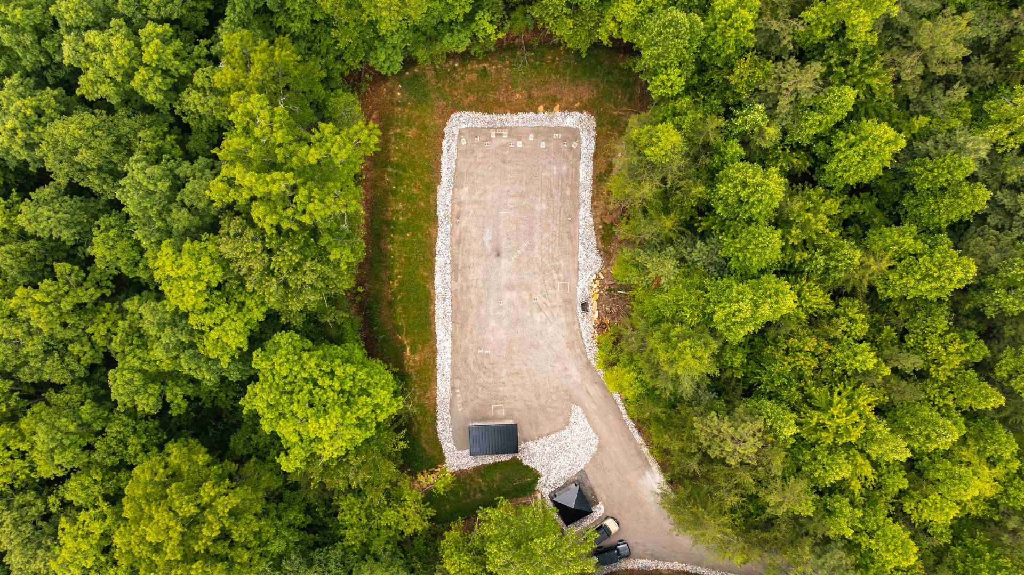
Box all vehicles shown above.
[595,540,632,568]
[580,517,618,550]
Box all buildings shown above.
[468,419,519,457]
[552,482,593,525]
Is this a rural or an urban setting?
rural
